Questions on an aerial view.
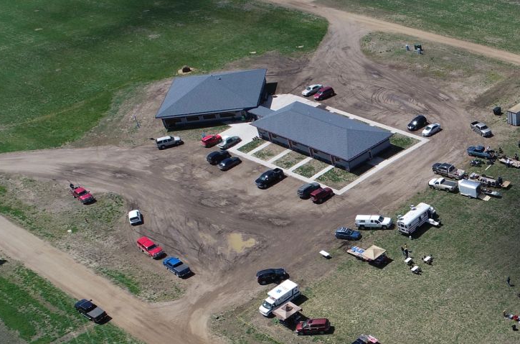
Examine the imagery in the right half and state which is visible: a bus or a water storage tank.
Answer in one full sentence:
What appears in the right half is a bus.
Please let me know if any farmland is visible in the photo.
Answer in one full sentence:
Yes, farmland can be seen from above here.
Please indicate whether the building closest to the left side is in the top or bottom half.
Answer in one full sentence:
You can find the building closest to the left side in the top half.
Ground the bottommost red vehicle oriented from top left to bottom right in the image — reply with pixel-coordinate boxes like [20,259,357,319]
[133,234,165,258]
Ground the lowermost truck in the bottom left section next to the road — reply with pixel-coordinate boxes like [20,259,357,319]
[74,303,109,325]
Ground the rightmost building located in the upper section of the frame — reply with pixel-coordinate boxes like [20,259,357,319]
[250,102,397,171]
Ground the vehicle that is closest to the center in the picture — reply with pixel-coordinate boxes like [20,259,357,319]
[254,168,286,187]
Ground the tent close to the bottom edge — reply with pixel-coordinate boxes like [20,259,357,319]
[271,301,304,328]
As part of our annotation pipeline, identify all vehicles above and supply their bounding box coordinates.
[295,184,323,198]
[127,211,142,226]
[313,87,335,100]
[427,178,456,194]
[301,85,324,97]
[254,168,286,187]
[467,147,494,159]
[74,303,109,325]
[133,234,165,258]
[333,229,362,241]
[308,189,336,203]
[217,158,243,170]
[162,260,193,278]
[406,115,429,130]
[294,315,333,335]
[420,124,443,137]
[467,121,493,137]
[259,276,301,314]
[154,136,183,148]
[199,132,224,146]
[253,269,290,286]
[67,186,93,203]
[435,166,468,182]
[206,149,232,164]
[397,202,436,234]
[217,137,242,148]
[354,216,392,232]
